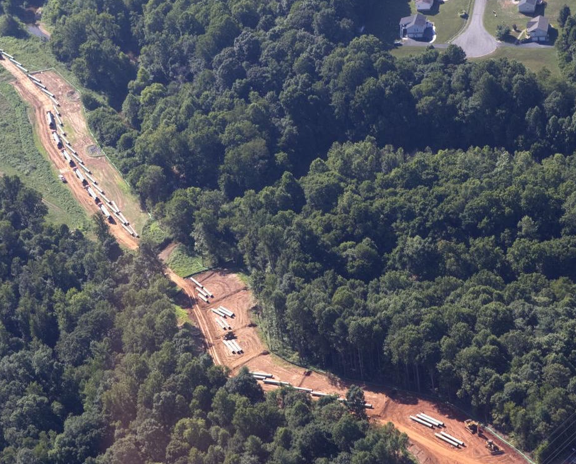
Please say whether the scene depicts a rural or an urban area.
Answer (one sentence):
From above, the setting appears rural.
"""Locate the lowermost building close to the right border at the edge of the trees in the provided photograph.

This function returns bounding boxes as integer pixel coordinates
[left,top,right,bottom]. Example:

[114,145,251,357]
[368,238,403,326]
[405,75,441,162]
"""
[528,17,555,42]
